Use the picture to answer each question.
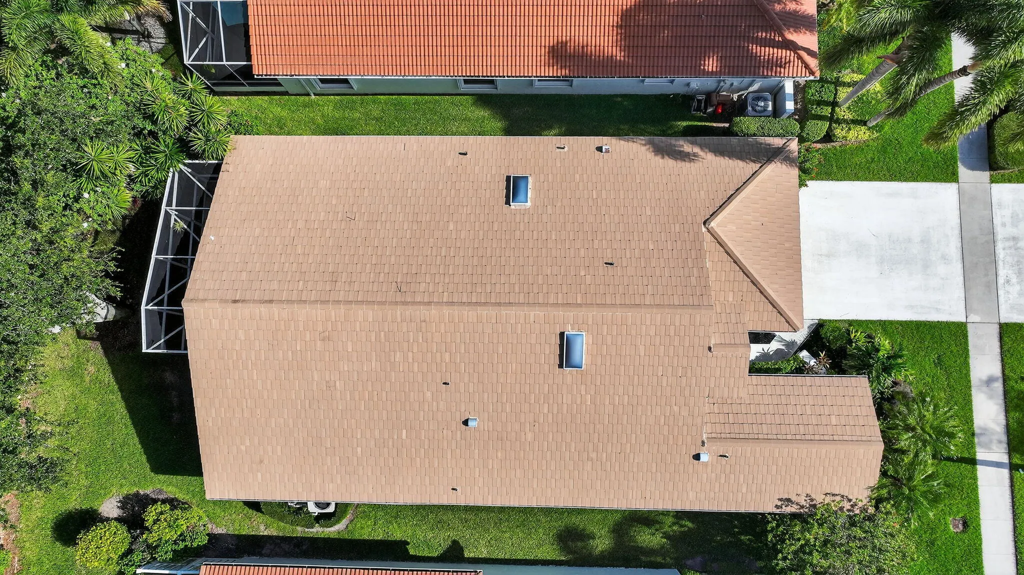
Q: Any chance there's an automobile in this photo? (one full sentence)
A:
No, the photo shows no automobile.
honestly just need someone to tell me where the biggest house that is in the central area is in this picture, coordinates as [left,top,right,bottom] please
[181,133,889,517]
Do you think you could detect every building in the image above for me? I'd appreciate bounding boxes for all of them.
[243,0,823,99]
[197,557,484,575]
[181,133,889,517]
